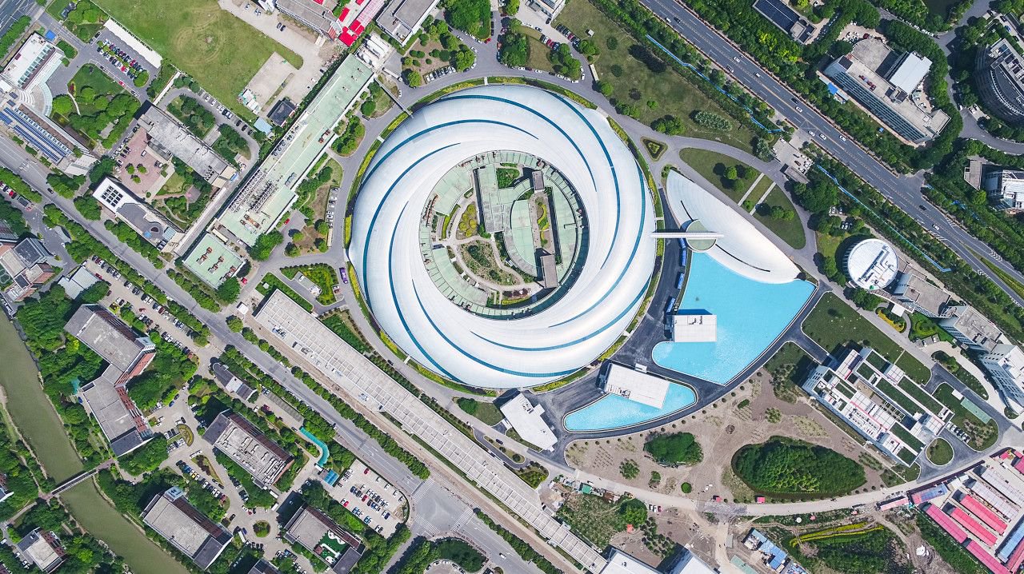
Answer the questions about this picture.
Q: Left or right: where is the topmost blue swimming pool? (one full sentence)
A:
The topmost blue swimming pool appears in the right half of the scene.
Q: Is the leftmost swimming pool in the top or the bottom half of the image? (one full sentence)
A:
The leftmost swimming pool sits in the bottom half of the picture.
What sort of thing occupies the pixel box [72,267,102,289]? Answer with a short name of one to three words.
shed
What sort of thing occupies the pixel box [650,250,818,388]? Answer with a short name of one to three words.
swimming pool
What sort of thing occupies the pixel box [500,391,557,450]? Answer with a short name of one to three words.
building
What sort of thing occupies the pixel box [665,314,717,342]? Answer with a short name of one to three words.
building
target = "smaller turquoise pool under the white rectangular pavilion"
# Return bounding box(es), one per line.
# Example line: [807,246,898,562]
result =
[562,379,699,434]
